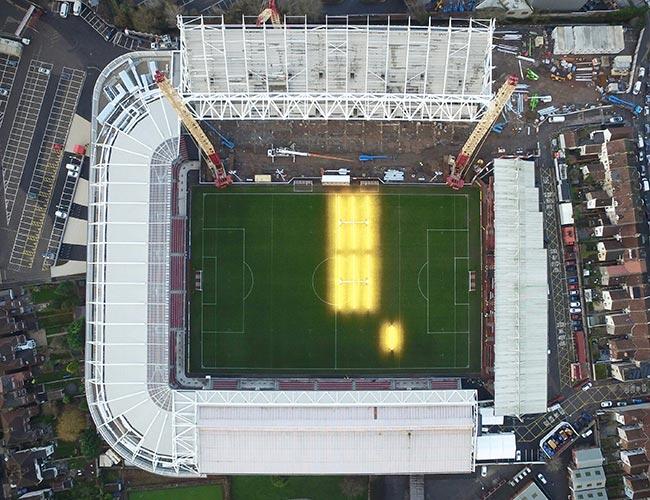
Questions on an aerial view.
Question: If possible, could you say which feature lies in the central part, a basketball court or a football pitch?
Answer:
football pitch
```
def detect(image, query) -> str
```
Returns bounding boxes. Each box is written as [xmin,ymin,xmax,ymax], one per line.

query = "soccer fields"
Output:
[190,185,479,372]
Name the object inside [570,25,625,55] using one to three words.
shed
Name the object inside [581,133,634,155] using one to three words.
house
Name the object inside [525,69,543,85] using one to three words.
work vehicle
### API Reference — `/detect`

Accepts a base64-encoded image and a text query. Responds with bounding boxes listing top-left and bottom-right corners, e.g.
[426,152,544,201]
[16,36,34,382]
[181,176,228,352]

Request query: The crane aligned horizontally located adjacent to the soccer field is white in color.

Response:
[266,143,369,167]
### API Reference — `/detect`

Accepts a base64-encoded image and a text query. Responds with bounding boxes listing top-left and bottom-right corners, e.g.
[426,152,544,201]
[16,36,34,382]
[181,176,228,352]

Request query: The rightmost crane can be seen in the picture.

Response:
[446,77,519,189]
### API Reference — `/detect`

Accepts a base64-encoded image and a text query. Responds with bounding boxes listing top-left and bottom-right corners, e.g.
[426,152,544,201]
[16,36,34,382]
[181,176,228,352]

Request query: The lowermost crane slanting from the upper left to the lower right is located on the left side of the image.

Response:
[152,74,234,189]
